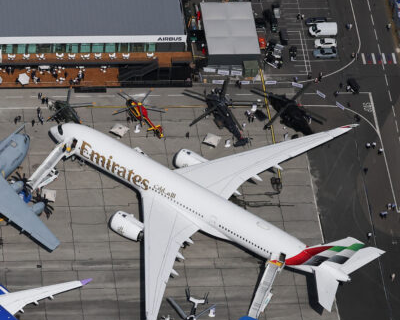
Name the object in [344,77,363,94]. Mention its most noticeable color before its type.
black car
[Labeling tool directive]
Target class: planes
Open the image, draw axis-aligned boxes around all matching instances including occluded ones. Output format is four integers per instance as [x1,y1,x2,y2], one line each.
[49,126,388,320]
[0,123,55,250]
[0,277,88,320]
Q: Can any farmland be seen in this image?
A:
No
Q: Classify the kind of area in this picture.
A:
airport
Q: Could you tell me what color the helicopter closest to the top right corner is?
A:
black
